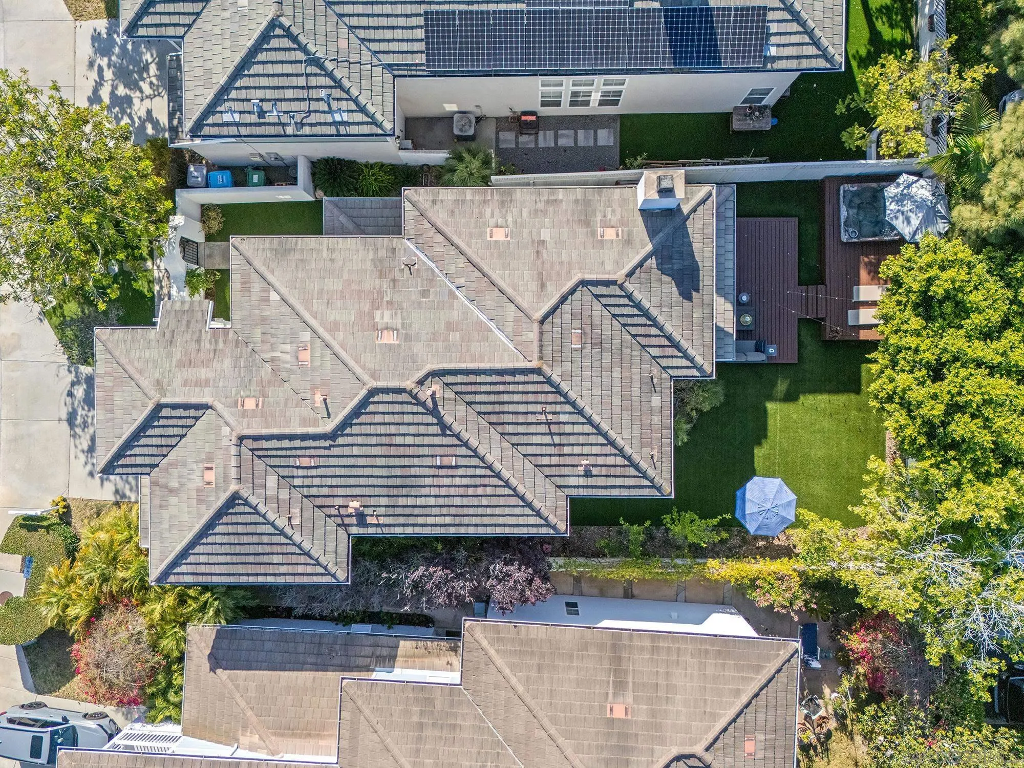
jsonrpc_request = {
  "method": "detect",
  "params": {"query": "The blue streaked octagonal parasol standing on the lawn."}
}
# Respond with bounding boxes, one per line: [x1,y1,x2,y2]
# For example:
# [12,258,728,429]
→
[734,476,794,535]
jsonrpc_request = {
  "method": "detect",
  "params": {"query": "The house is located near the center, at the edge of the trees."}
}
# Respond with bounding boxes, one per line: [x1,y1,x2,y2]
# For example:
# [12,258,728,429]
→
[95,171,736,584]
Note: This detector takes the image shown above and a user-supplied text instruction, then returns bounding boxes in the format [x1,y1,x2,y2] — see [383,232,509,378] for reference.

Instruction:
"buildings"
[49,599,799,768]
[95,171,736,584]
[119,0,844,164]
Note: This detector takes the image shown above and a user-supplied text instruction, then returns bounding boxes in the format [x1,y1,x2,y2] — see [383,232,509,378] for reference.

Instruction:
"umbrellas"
[881,170,956,245]
[734,476,794,535]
